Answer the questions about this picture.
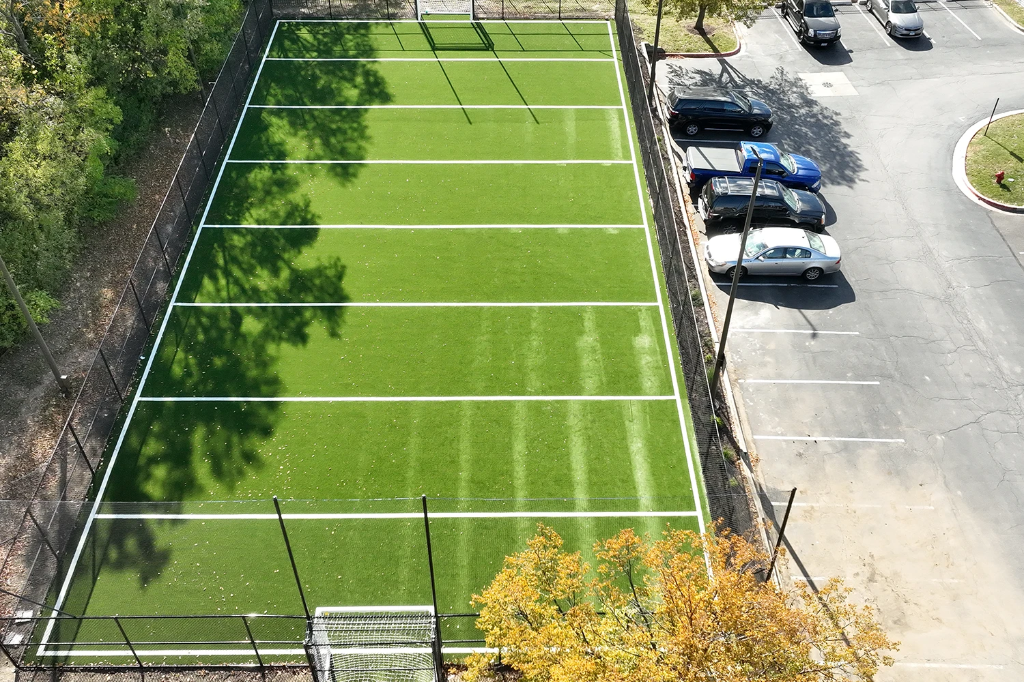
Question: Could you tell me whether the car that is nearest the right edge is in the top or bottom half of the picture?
top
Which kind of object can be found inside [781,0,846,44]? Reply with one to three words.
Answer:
car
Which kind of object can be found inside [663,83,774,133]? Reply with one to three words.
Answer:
car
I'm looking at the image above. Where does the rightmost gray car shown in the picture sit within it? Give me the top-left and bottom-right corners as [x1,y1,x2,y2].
[870,0,932,36]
